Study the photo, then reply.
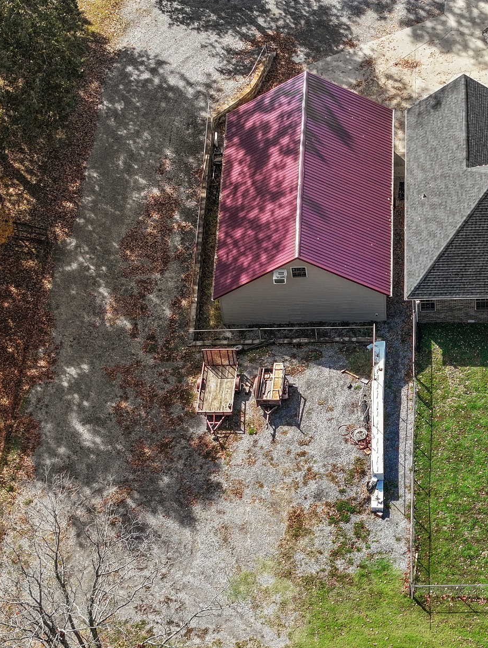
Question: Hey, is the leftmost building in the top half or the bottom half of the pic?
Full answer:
It is in the top half that the leftmost building appears.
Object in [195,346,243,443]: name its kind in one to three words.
trailer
